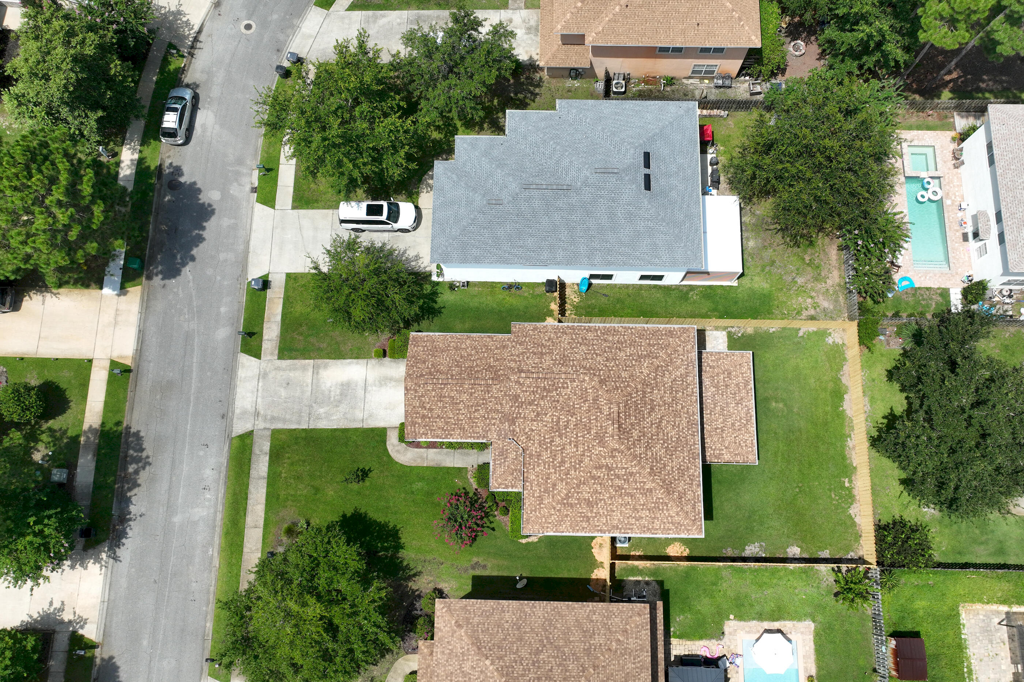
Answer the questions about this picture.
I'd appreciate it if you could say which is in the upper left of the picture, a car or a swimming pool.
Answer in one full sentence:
It is a car that can be seen in the upper left of the picture.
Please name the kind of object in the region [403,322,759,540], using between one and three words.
house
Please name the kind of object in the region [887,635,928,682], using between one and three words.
shed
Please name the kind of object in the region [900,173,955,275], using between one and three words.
swimming pool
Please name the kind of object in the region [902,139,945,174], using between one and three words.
swimming pool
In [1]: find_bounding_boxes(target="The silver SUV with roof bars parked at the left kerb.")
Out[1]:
[157,84,194,144]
